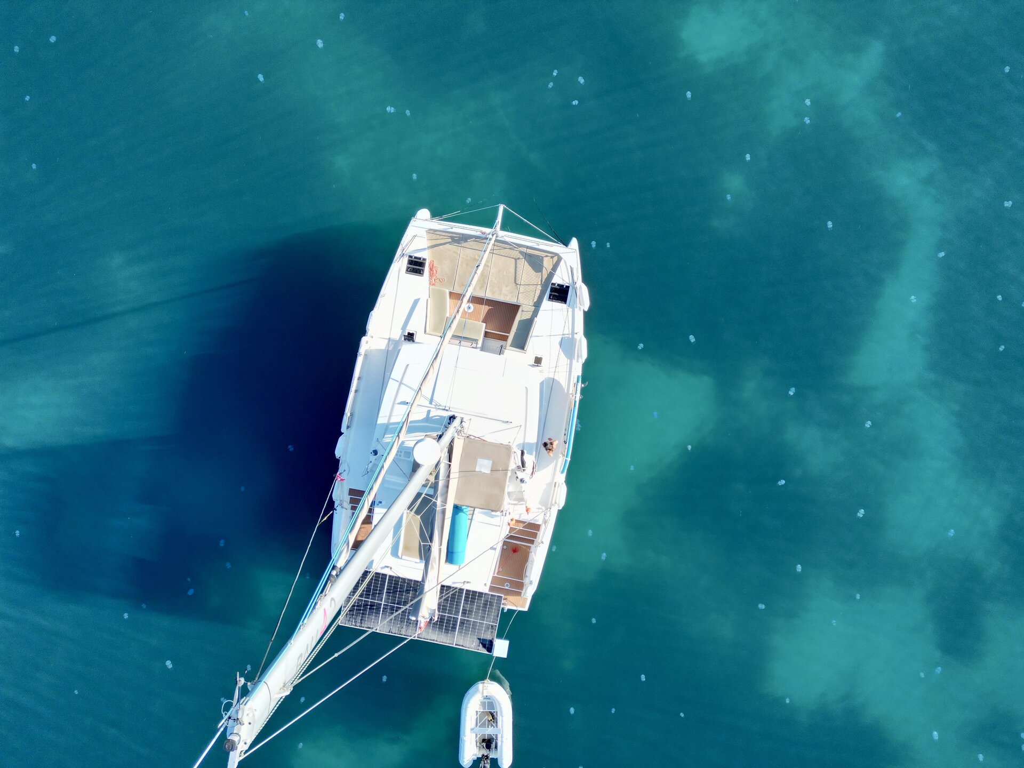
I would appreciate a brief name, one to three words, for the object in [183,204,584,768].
boat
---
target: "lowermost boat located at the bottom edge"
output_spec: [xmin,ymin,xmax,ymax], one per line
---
[459,682,513,768]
